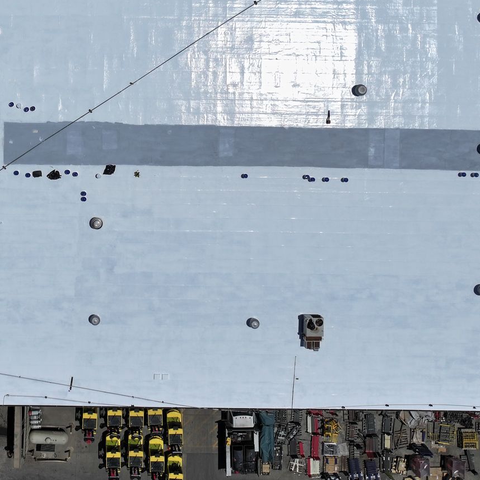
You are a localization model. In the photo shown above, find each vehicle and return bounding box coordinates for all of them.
[145,411,163,438]
[222,412,257,477]
[104,430,123,480]
[163,450,184,480]
[81,410,99,442]
[126,411,145,439]
[125,426,144,480]
[163,411,184,458]
[146,433,166,480]
[105,411,123,438]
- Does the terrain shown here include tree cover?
No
